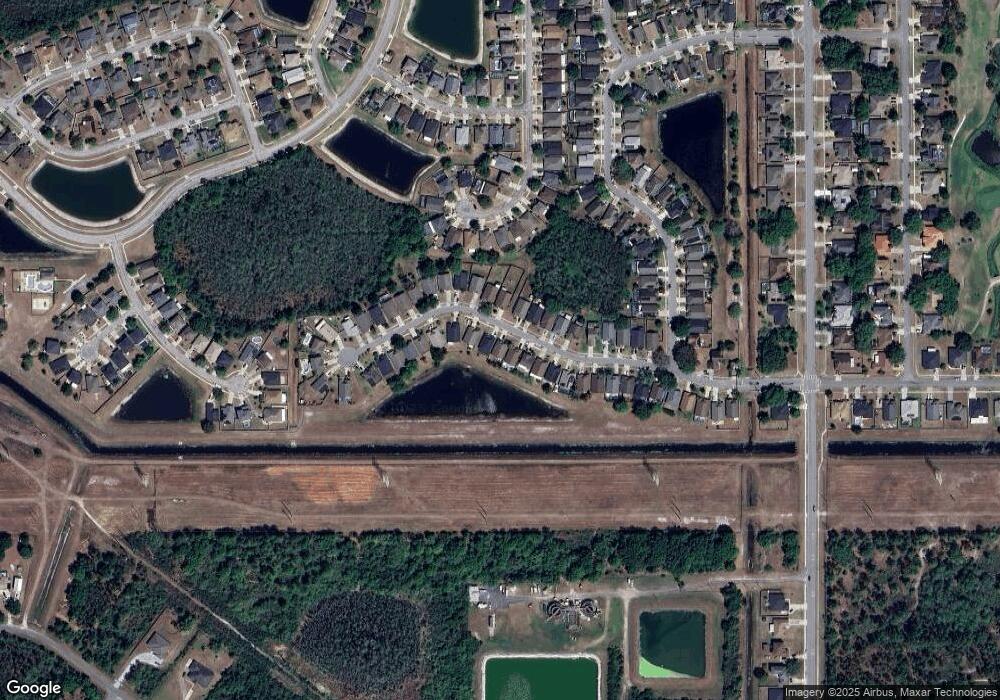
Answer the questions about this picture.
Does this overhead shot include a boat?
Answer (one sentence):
No, the scene contains no boat.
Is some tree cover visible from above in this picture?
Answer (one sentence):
Yes, there's tree cover in this view.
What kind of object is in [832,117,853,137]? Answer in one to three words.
house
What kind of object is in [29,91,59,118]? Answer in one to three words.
house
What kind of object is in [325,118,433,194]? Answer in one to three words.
pond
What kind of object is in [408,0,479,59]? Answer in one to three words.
pond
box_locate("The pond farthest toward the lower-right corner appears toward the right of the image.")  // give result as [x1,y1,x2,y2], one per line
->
[639,610,707,679]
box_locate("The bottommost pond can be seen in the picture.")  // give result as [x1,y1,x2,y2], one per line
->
[482,656,601,700]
